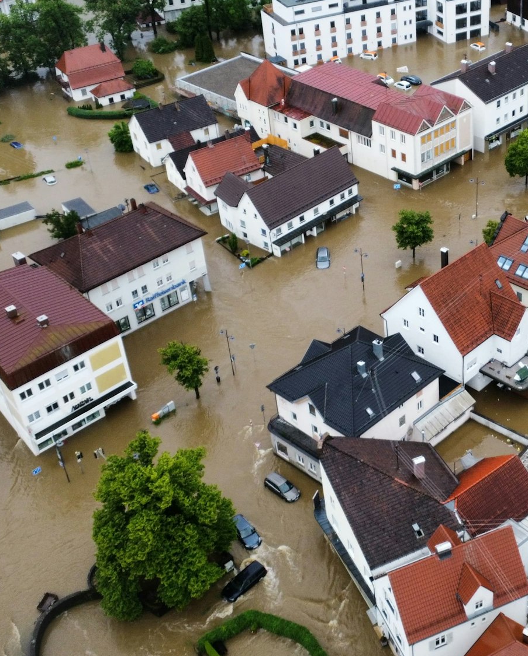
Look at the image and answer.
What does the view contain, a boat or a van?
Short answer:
van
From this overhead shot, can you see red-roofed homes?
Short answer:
Yes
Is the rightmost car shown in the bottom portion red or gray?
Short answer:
gray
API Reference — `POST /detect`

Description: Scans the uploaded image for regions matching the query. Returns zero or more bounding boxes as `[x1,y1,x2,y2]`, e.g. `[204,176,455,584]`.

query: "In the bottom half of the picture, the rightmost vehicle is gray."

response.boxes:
[259,471,303,505]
